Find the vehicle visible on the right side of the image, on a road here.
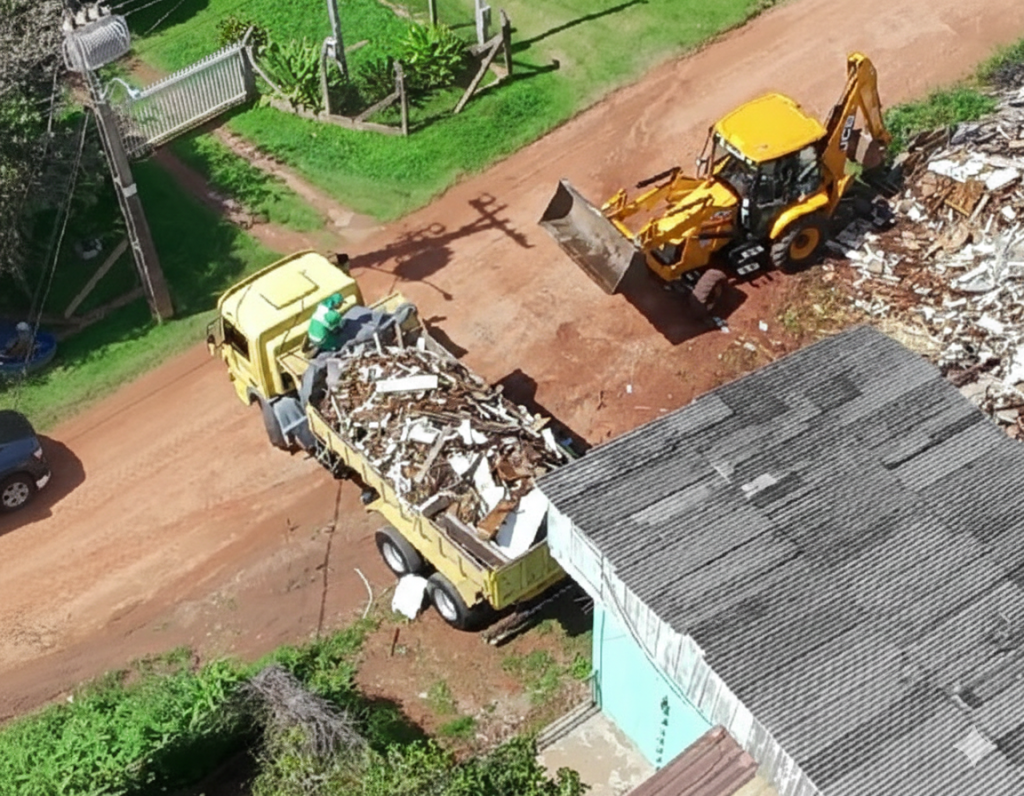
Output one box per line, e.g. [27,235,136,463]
[536,51,895,310]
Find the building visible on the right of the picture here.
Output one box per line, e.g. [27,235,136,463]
[531,327,1024,796]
